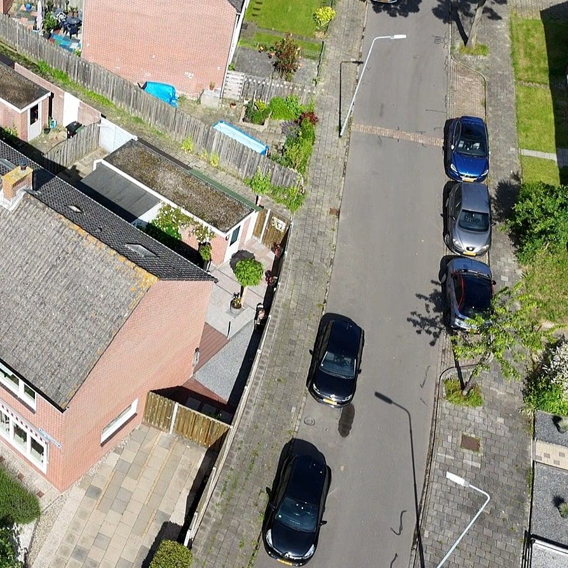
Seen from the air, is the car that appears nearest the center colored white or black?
black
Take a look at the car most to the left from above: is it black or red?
black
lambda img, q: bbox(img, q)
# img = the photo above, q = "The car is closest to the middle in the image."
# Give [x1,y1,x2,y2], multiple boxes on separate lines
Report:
[306,313,368,408]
